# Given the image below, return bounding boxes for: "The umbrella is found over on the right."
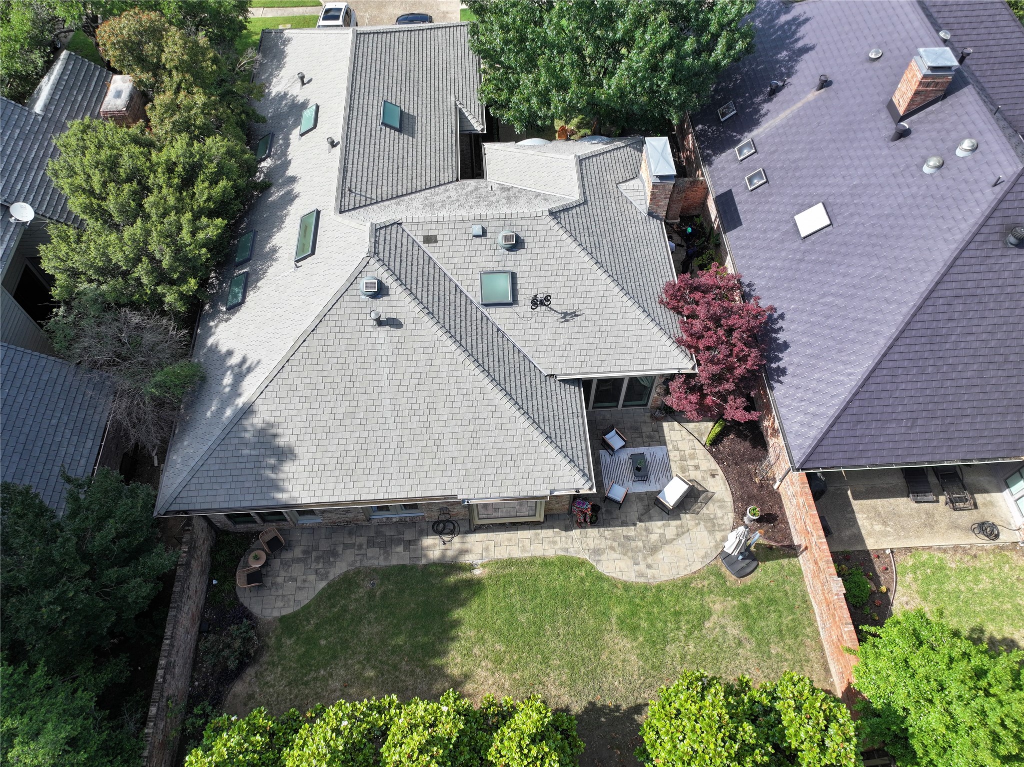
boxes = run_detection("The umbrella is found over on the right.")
[719,525,764,579]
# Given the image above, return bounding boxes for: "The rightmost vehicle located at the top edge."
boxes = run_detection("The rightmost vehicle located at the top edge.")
[400,7,435,29]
